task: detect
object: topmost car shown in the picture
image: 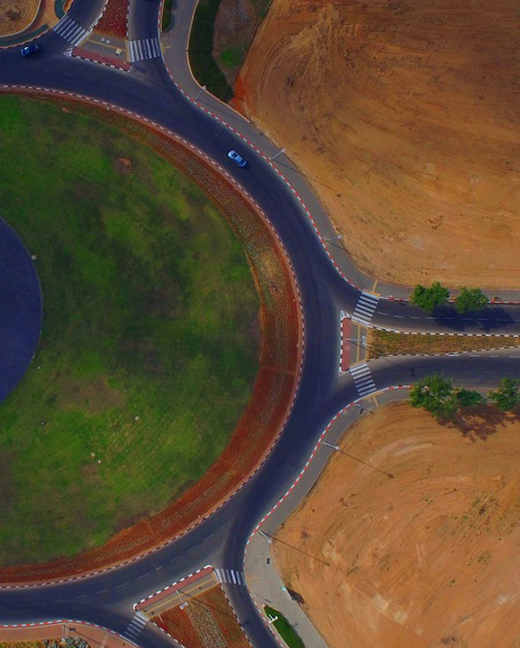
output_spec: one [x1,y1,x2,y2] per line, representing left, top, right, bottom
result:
[21,43,40,55]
